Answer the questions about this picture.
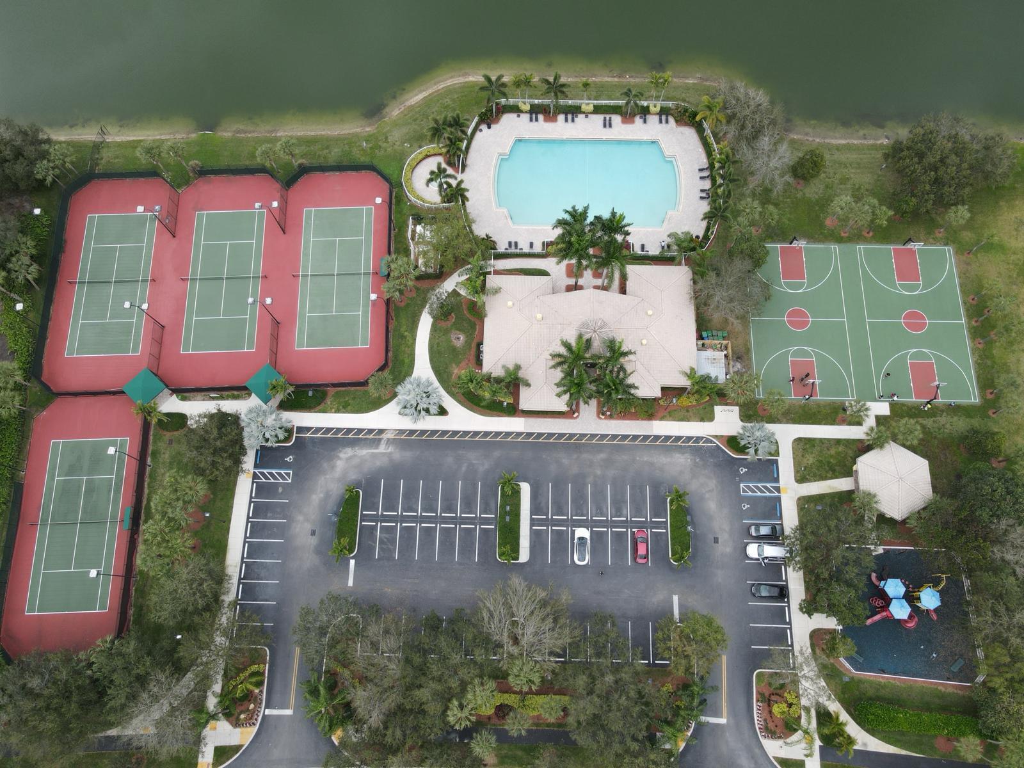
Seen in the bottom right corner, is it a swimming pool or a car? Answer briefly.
car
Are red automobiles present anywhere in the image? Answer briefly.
Yes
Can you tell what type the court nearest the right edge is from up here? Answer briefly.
basketball court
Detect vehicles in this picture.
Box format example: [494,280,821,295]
[747,522,783,539]
[633,529,649,564]
[750,582,788,600]
[744,543,786,567]
[573,528,590,565]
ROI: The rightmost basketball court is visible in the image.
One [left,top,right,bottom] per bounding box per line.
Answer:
[846,242,982,406]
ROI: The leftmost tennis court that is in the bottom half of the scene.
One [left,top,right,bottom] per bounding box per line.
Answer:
[0,394,149,662]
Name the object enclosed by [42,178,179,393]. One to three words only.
tennis court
